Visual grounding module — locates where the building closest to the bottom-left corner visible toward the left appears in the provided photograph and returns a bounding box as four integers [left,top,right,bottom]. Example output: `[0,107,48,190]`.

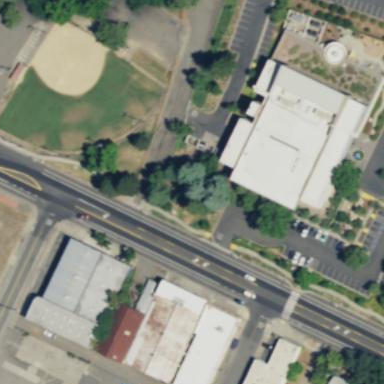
[25,296,97,348]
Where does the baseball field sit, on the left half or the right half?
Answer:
left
